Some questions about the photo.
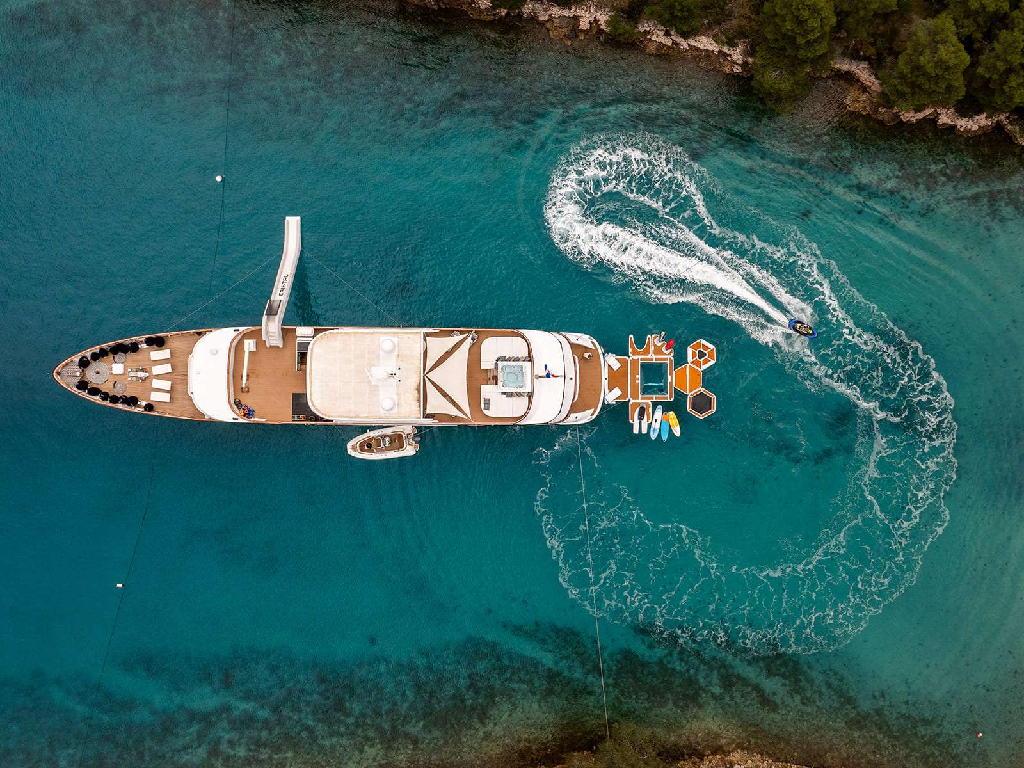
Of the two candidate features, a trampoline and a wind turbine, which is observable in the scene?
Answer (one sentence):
There is a trampoline in the scene.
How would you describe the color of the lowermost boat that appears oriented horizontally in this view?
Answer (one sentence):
The lowermost boat that appears oriented horizontally is white.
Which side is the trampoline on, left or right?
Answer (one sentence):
The trampoline sits on the right side.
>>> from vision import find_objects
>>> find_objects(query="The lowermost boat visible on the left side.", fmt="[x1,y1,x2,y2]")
[347,425,420,459]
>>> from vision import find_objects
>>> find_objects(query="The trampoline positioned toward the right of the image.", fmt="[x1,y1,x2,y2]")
[688,388,715,419]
